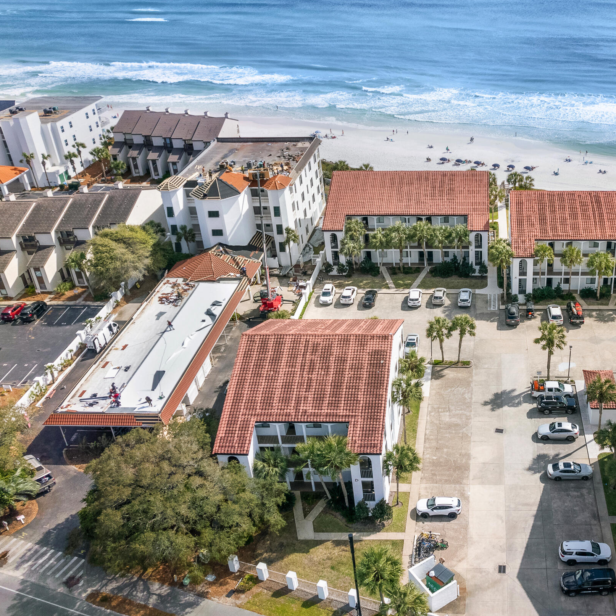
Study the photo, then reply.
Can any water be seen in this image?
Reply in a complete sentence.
Yes, water shows up in the scene.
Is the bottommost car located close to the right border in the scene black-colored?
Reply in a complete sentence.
Yes, black is the color of the bottommost car located close to the right border.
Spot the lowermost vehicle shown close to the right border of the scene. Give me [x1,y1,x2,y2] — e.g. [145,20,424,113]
[559,566,616,596]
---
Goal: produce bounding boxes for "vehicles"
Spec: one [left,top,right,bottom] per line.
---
[525,302,534,315]
[557,537,613,565]
[567,300,584,322]
[79,313,119,350]
[534,390,578,414]
[20,298,51,319]
[340,284,358,302]
[320,281,338,302]
[13,459,46,499]
[404,332,420,354]
[408,286,423,304]
[504,301,520,322]
[537,419,580,440]
[548,303,563,322]
[362,287,378,304]
[416,495,462,518]
[547,459,593,481]
[2,300,29,319]
[529,377,575,397]
[432,285,446,303]
[559,566,616,596]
